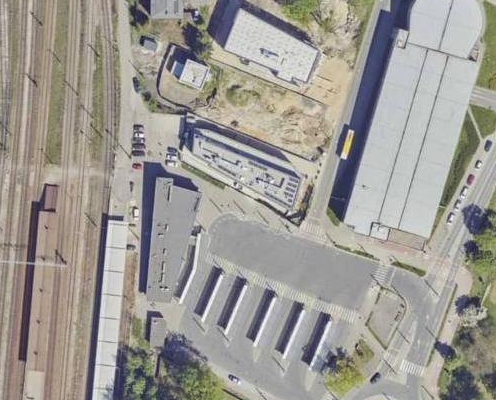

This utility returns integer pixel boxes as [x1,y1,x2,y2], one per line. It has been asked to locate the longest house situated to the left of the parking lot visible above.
[43,184,58,210]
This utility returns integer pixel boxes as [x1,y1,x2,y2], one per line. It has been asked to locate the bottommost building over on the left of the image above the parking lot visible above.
[171,59,209,89]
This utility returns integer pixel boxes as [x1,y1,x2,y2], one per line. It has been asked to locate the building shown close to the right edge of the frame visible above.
[343,0,485,251]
